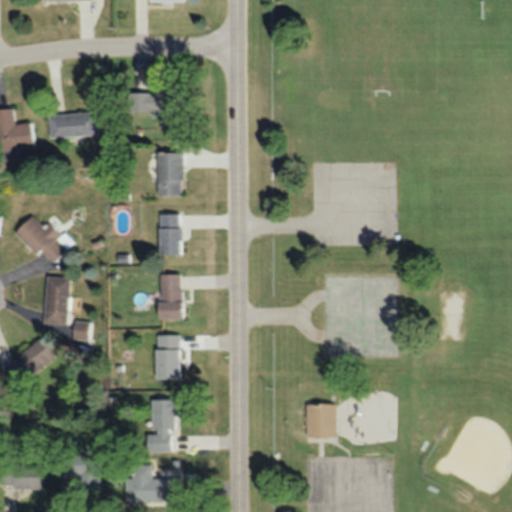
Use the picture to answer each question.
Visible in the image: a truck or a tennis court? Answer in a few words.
tennis court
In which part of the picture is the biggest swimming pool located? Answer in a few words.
left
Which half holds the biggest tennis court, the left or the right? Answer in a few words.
right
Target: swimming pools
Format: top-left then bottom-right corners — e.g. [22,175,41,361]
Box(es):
[112,206,134,236]
[132,292,149,307]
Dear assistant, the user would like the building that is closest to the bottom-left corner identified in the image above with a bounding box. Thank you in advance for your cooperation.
[2,476,44,490]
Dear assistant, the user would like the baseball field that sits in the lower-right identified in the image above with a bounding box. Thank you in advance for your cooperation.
[435,416,512,495]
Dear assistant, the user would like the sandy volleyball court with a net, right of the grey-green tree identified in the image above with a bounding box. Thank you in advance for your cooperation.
[440,292,465,340]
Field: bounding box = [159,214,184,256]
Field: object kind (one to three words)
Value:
house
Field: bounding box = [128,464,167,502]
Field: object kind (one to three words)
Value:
house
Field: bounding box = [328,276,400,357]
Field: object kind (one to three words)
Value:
tennis court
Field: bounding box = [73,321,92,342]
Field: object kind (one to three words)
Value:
building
